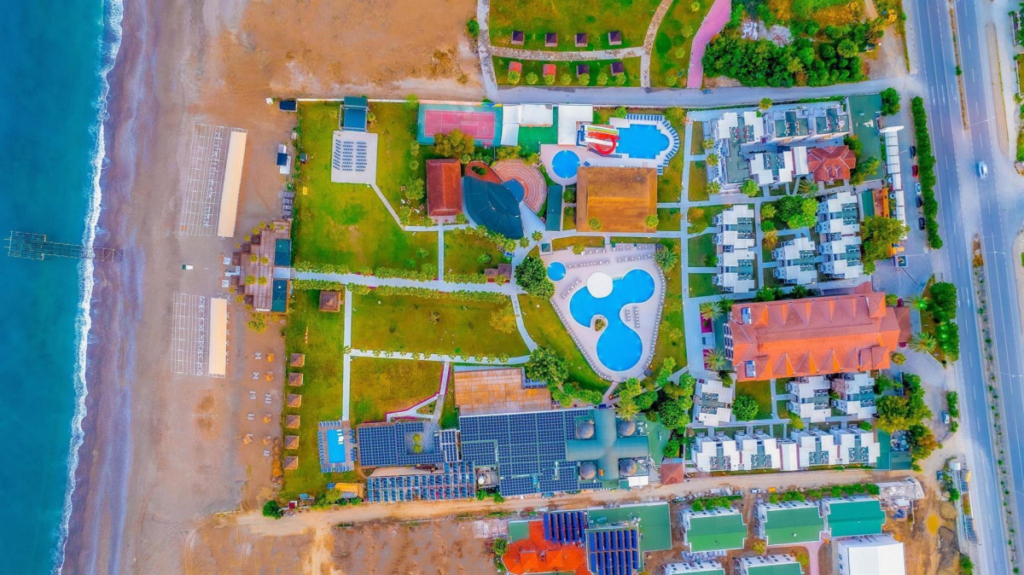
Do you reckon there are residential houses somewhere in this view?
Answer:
Yes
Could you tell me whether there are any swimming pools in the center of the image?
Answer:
Yes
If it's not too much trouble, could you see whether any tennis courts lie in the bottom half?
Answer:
No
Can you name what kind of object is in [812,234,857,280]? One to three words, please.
house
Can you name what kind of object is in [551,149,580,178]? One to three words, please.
swimming pool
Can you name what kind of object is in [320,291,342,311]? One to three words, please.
gazebo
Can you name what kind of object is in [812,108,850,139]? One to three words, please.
building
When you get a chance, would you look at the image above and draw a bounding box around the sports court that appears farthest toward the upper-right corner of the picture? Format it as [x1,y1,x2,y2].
[517,107,558,145]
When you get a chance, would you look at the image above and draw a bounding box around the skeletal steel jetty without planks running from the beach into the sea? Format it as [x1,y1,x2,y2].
[4,231,123,263]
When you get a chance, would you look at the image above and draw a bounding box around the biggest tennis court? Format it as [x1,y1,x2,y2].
[417,104,502,147]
